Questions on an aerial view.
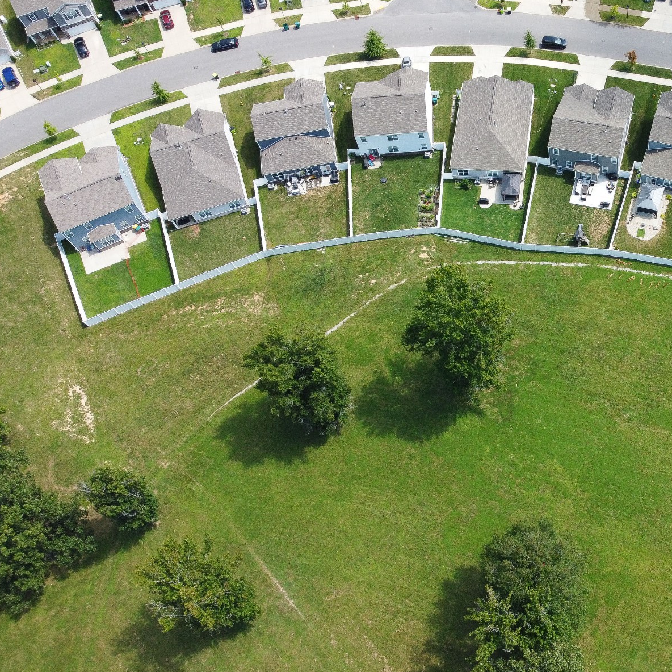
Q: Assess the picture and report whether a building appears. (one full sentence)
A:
Yes, I can see a building in this picture.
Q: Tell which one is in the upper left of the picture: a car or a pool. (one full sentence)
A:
Visible in the upper left of the picture is a car.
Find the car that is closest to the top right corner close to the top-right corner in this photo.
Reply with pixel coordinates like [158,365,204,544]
[539,33,568,49]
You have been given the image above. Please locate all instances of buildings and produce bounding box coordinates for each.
[41,143,149,252]
[0,23,15,65]
[547,83,635,185]
[352,67,434,158]
[112,0,183,22]
[9,0,100,48]
[251,78,339,184]
[448,74,536,180]
[150,107,250,229]
[638,91,672,191]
